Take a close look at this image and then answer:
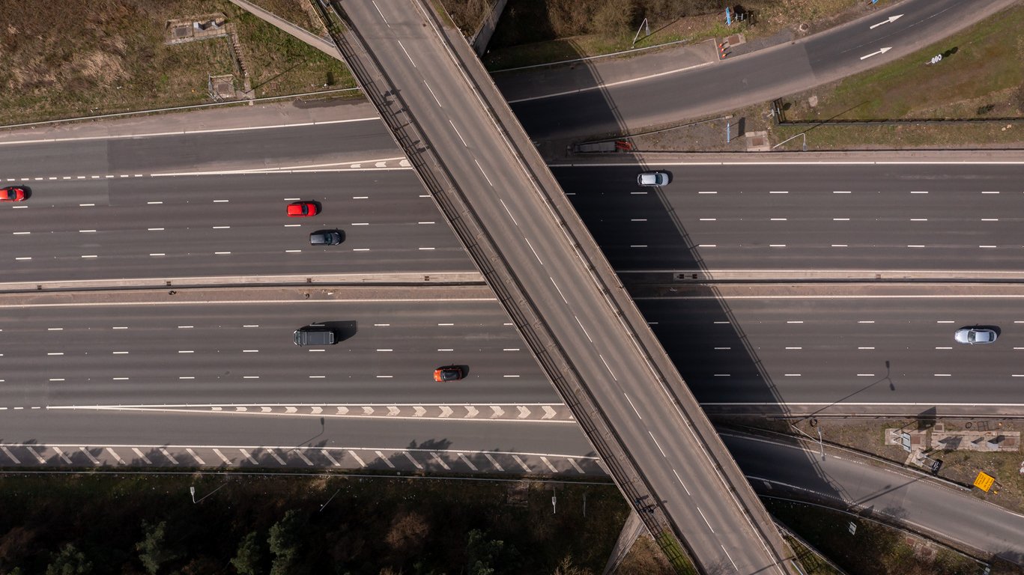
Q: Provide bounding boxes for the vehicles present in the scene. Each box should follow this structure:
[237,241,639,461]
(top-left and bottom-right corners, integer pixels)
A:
[434,367,463,383]
[955,328,996,346]
[295,329,337,348]
[0,186,26,203]
[288,201,318,218]
[310,230,342,247]
[637,171,670,188]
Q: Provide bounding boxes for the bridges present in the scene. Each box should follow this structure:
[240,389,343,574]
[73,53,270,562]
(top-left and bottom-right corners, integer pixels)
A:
[304,0,809,575]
